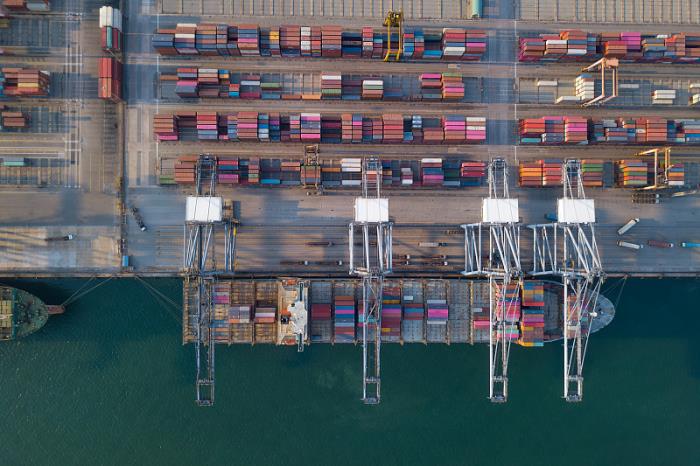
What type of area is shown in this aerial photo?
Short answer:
port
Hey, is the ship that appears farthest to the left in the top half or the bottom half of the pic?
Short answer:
bottom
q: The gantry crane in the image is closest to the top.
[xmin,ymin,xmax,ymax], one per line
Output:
[383,8,404,63]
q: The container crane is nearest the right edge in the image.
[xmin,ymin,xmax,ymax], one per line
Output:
[632,146,669,191]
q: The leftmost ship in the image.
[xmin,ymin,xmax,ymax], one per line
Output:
[0,284,66,340]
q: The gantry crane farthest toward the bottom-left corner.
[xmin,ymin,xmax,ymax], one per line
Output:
[181,156,247,404]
